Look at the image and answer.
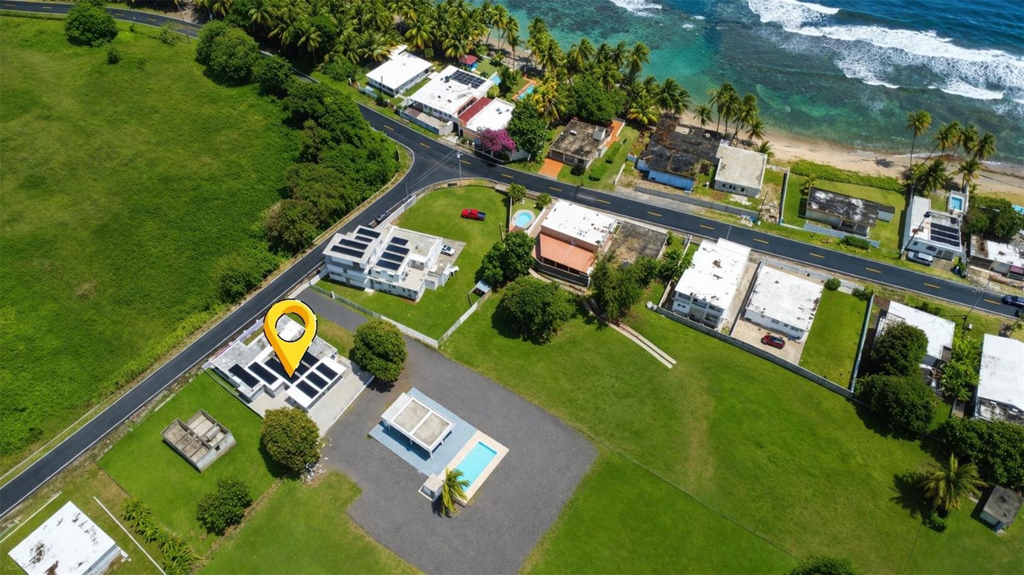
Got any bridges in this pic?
No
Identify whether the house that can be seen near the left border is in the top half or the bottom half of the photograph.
bottom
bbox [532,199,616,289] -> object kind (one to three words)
house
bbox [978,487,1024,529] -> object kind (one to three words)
shed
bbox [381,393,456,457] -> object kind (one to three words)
building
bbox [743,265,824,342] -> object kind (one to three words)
house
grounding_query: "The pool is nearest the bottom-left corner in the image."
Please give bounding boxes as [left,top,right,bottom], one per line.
[437,428,509,505]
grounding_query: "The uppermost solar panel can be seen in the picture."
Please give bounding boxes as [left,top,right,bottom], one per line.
[450,70,486,88]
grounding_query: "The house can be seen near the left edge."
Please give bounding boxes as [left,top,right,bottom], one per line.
[8,501,129,575]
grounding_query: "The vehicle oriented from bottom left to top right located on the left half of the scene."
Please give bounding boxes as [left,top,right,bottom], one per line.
[371,209,392,224]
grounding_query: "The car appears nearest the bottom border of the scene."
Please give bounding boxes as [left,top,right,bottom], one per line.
[761,334,789,349]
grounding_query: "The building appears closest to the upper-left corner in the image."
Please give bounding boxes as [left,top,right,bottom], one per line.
[365,46,433,100]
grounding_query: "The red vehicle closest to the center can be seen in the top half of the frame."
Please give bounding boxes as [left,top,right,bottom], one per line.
[460,208,487,221]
